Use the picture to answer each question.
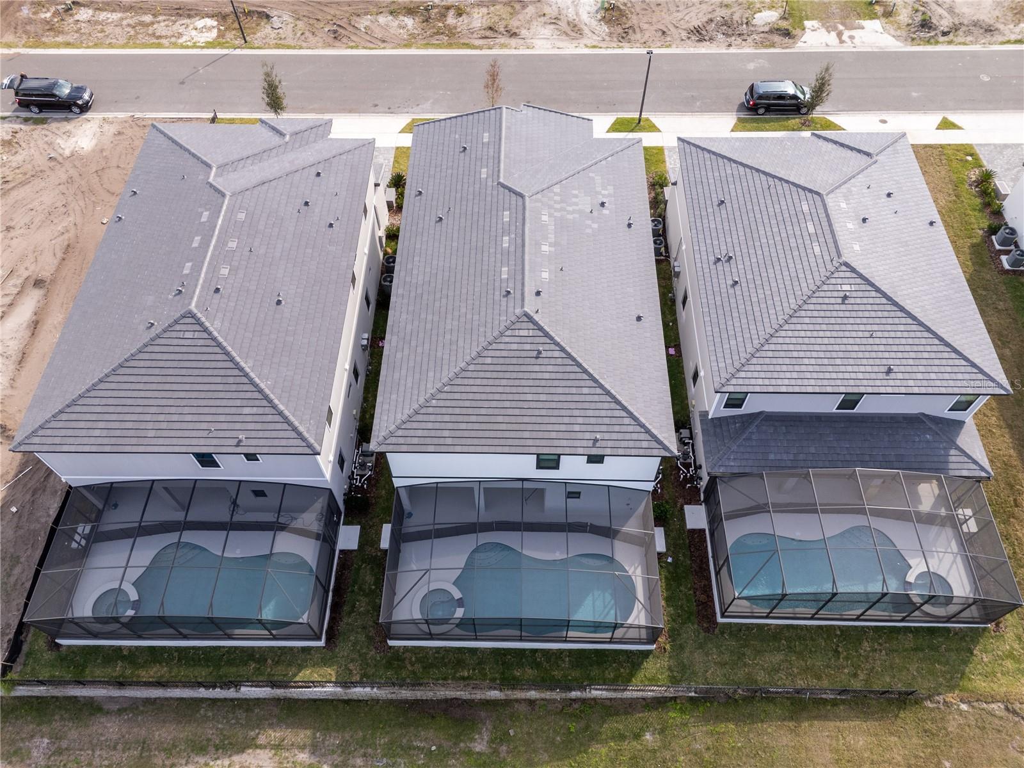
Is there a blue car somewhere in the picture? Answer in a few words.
No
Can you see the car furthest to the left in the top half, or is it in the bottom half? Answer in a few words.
top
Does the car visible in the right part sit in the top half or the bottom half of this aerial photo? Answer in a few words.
top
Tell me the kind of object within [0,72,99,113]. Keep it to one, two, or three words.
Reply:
car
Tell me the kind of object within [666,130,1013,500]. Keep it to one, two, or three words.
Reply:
house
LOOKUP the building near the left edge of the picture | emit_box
[9,117,387,511]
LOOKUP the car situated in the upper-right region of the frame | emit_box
[741,76,816,112]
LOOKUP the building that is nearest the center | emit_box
[369,103,680,513]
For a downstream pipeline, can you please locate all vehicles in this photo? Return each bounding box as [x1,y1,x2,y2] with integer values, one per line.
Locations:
[0,72,99,113]
[741,76,816,112]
